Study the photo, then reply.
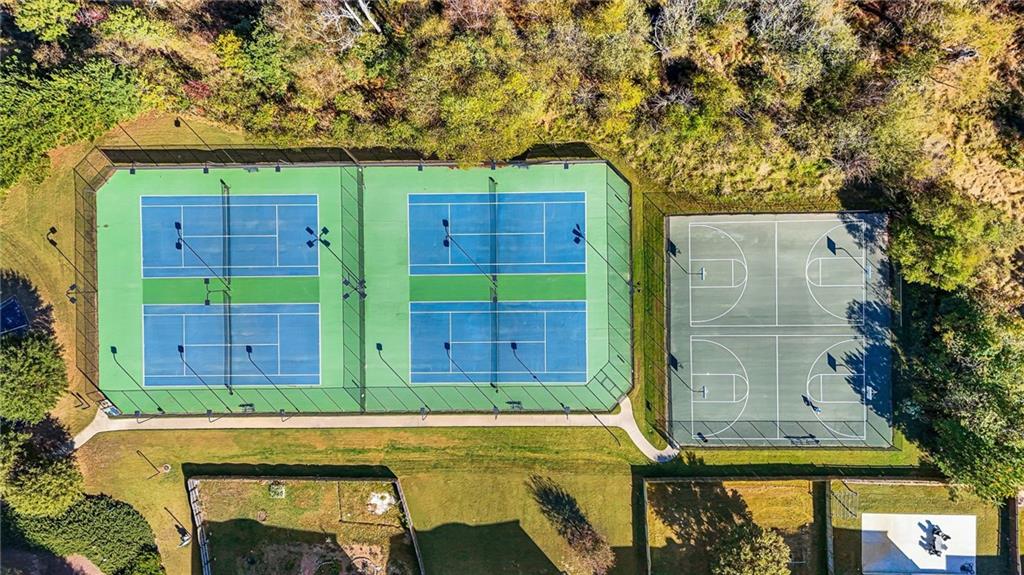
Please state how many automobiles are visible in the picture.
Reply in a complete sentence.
No automobiles are visible.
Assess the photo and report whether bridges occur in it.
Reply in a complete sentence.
No, I find no bridge anywhere in the image.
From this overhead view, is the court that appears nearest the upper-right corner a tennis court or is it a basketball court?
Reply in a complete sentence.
Looking closely, the court that appears nearest the upper-right corner is a basketball court.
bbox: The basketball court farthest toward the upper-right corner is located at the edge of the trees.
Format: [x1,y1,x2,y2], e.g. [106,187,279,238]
[688,220,866,326]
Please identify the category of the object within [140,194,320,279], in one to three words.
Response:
tennis court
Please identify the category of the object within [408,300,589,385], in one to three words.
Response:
tennis court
